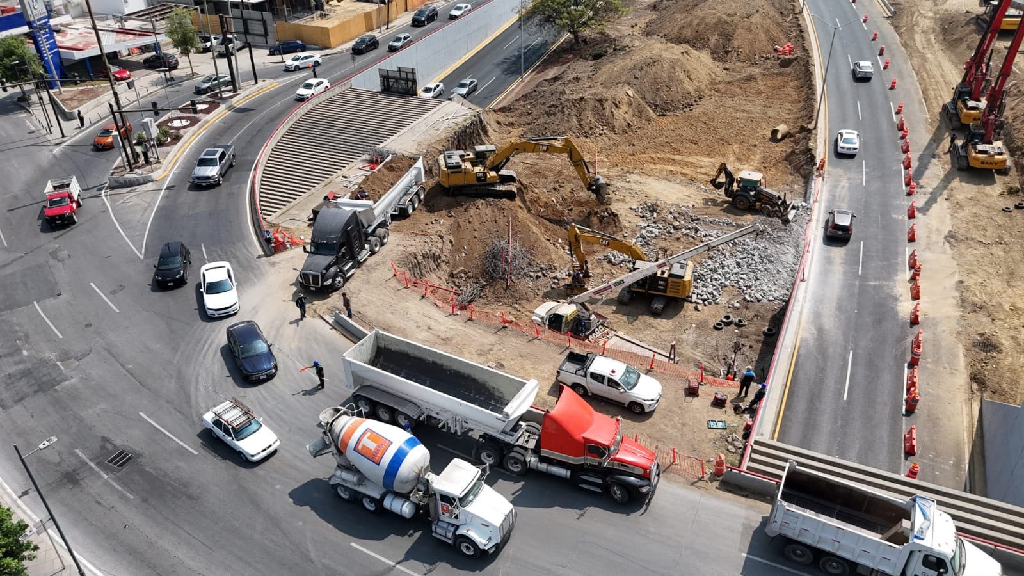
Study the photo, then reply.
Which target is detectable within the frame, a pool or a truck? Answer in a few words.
truck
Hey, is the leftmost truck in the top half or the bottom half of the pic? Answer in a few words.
top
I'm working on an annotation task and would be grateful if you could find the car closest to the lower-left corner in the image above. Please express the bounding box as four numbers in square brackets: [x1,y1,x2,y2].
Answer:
[202,398,280,462]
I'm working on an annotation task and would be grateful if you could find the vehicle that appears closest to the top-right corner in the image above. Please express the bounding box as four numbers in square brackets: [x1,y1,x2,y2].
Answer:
[852,59,874,78]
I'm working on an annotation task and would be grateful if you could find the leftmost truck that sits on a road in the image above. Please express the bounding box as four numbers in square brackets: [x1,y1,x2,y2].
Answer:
[41,168,81,224]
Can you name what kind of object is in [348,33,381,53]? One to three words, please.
car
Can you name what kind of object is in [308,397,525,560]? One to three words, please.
truck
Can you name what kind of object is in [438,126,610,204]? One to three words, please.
work vehicle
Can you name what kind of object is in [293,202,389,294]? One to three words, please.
truck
